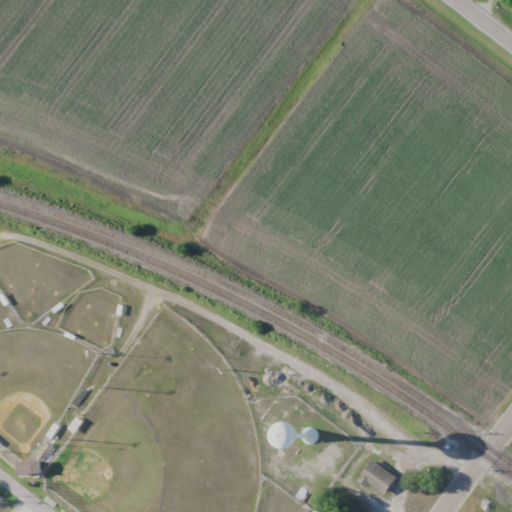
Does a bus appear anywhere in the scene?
No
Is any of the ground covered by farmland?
Yes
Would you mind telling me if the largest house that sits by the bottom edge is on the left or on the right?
right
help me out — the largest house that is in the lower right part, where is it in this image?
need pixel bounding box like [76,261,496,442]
[356,460,396,494]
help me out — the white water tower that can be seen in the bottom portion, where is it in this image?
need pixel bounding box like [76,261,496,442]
[266,422,319,450]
